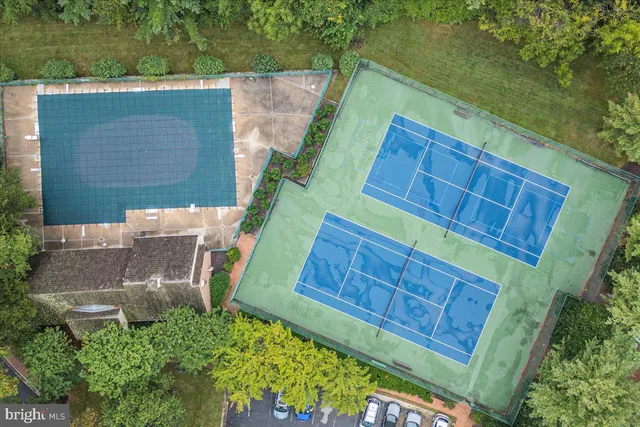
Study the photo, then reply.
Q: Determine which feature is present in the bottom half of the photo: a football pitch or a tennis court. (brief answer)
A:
tennis court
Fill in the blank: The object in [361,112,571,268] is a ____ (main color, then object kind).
blue tennis court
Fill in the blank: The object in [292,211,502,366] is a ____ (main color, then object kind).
blue tennis court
